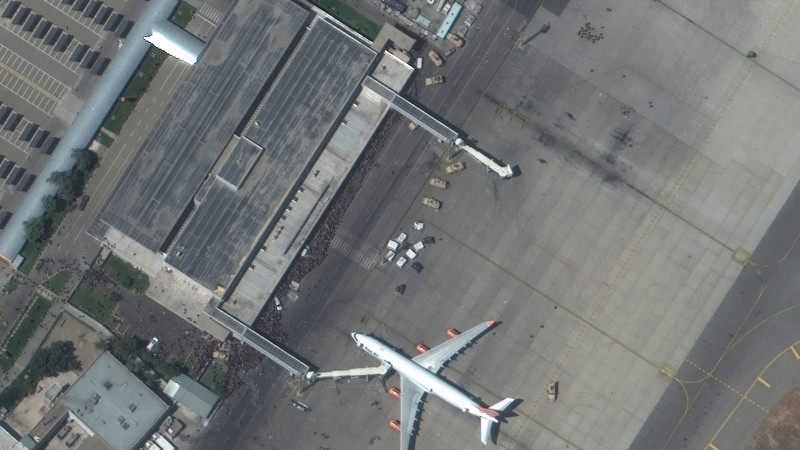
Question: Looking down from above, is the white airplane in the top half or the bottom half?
bottom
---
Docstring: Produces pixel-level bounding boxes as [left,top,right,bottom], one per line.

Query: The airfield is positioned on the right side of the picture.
[259,0,800,450]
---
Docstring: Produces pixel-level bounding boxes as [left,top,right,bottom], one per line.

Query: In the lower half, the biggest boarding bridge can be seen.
[203,297,311,378]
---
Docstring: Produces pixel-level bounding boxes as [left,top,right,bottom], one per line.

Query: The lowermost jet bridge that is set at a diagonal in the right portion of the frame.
[454,137,513,177]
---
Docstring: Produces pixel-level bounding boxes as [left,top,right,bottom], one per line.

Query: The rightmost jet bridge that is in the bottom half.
[305,359,390,384]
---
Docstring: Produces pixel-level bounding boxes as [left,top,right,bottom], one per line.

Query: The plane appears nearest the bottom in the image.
[351,325,514,450]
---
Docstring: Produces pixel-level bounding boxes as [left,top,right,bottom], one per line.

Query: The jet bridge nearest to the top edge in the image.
[361,76,459,146]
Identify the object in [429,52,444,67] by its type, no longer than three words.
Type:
vehicle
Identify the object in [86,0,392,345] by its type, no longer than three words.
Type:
building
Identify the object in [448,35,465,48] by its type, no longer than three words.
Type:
vehicle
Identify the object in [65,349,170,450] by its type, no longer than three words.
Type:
building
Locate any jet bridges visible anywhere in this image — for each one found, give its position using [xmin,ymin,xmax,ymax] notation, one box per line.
[361,76,459,146]
[454,137,513,177]
[305,359,390,384]
[203,297,311,378]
